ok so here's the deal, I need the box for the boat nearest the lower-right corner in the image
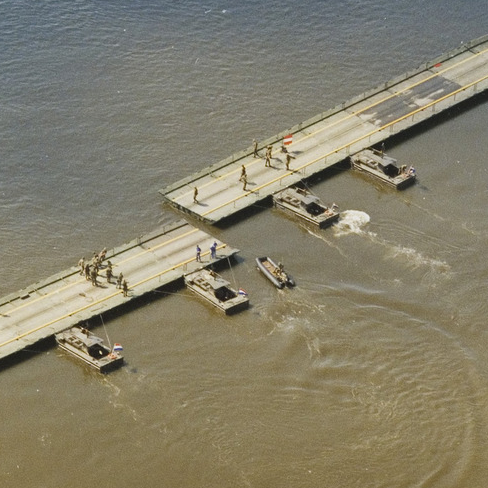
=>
[256,255,295,290]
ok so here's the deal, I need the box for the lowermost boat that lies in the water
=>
[63,314,127,378]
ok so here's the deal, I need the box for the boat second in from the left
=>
[189,258,253,317]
